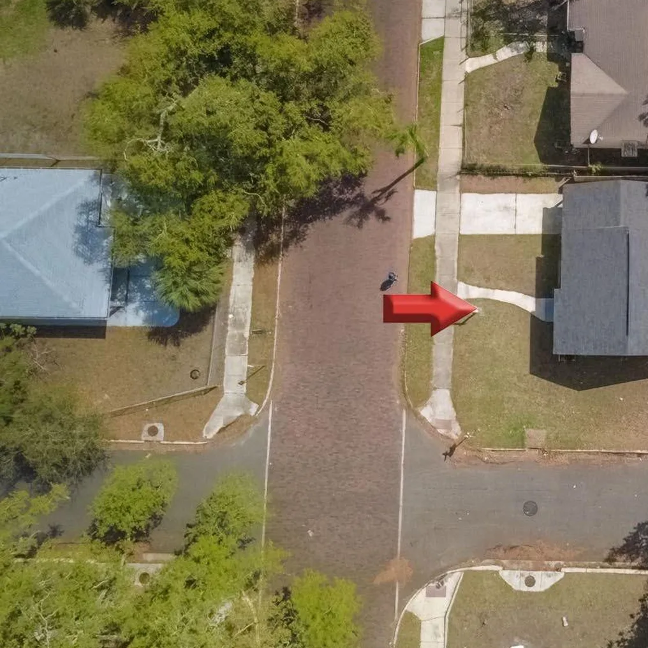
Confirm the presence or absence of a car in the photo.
No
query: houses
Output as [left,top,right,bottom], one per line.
[0,169,129,322]
[540,181,648,356]
[567,0,648,149]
